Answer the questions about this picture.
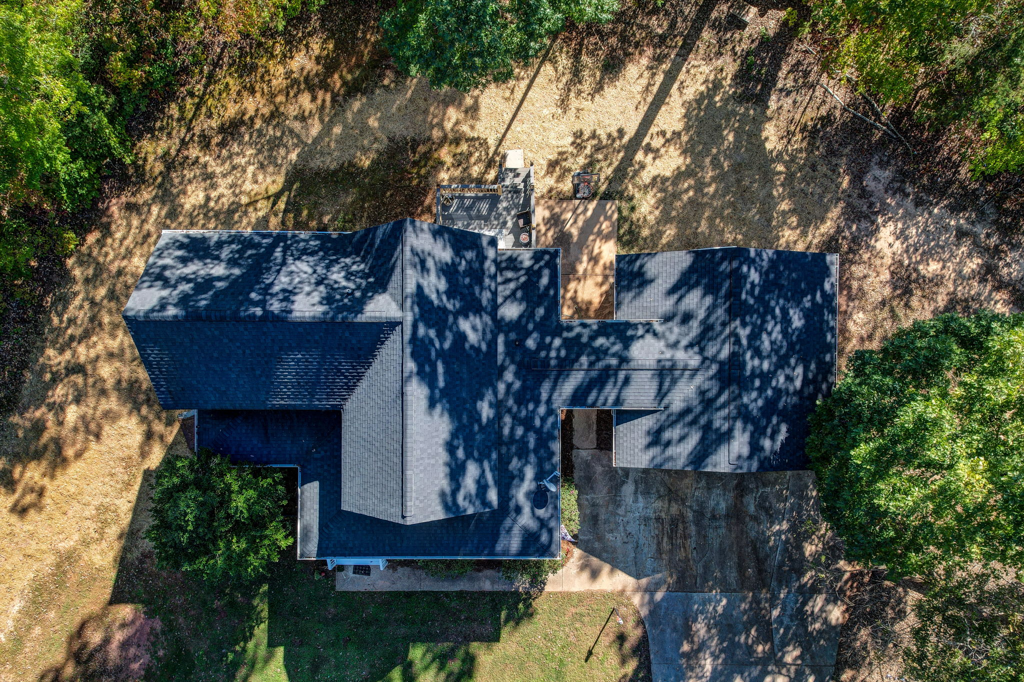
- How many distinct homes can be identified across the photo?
1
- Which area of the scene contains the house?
center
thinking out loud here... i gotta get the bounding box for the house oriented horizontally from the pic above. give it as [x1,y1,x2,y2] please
[125,219,837,570]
